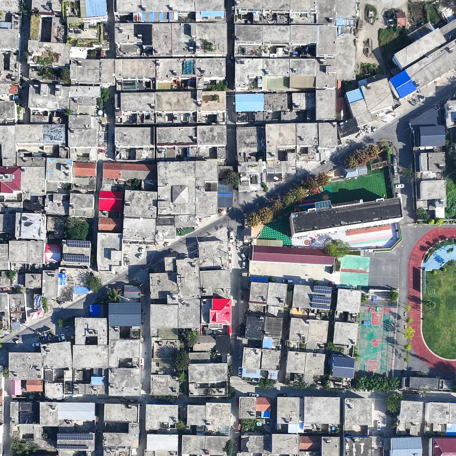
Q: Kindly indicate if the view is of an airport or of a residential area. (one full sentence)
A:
It's a residential area.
